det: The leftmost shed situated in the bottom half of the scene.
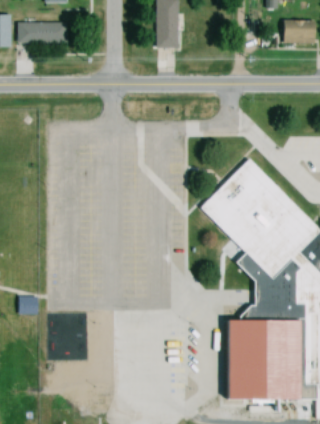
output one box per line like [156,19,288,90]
[18,295,38,314]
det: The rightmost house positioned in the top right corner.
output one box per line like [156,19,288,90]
[284,18,318,48]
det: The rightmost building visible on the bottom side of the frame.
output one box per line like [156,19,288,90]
[202,158,320,420]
